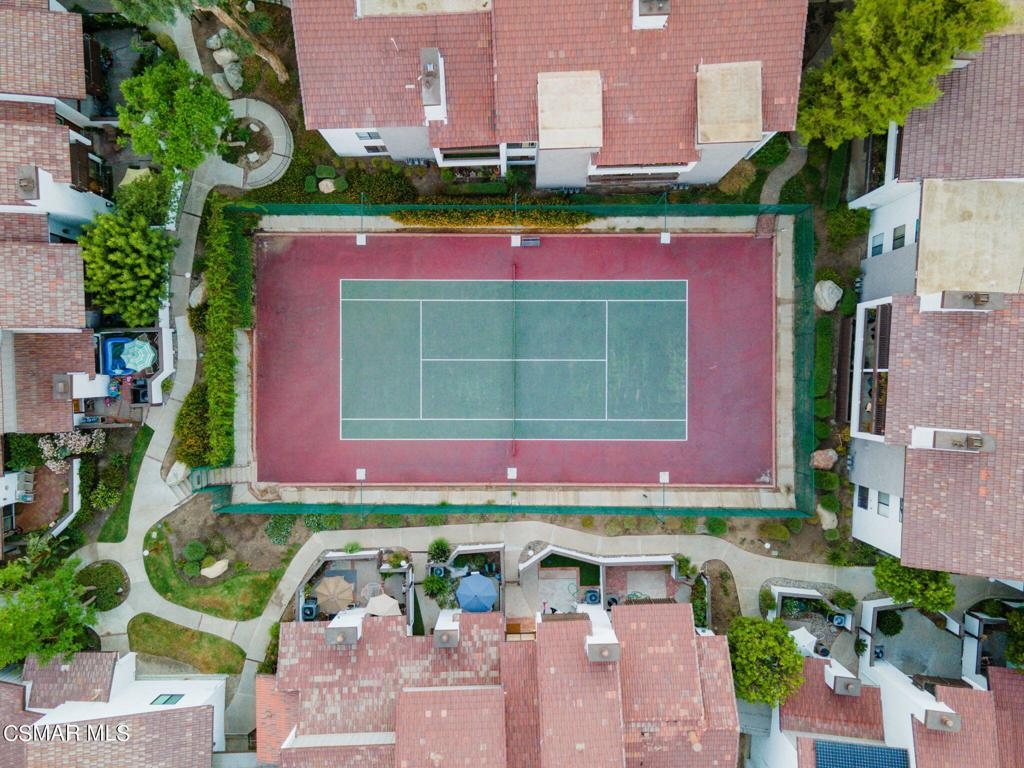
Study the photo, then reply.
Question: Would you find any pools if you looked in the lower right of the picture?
No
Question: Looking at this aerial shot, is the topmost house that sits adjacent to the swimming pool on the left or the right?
left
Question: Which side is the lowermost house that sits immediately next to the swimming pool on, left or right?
left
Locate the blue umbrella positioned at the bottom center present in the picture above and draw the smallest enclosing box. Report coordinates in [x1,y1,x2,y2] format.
[457,573,496,611]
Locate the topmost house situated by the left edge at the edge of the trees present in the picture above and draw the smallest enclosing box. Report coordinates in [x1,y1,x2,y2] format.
[0,0,126,114]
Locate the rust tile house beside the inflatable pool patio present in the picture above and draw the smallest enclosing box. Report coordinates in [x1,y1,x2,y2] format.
[0,331,107,473]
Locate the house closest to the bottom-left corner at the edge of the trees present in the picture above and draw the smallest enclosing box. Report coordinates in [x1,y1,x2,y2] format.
[0,646,233,768]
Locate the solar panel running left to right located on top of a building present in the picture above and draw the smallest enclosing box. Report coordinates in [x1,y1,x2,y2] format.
[816,741,909,768]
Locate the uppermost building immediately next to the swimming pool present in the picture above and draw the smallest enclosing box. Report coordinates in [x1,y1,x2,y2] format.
[0,206,115,335]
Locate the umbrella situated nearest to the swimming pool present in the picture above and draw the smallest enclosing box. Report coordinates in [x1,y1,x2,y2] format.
[121,337,159,371]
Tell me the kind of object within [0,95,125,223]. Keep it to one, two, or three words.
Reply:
house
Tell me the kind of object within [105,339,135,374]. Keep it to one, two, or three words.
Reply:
swimming pool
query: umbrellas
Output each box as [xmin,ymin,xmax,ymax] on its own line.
[785,624,822,657]
[457,573,496,611]
[316,575,355,614]
[367,589,397,616]
[121,337,159,371]
[120,160,159,191]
